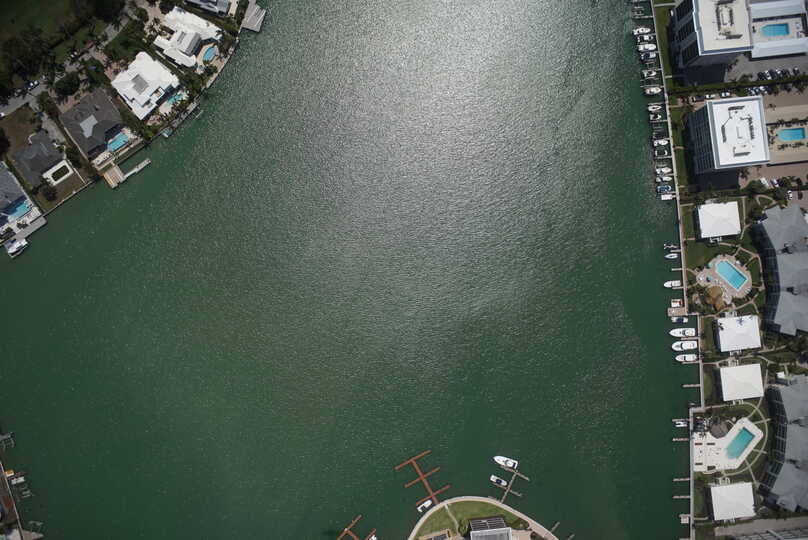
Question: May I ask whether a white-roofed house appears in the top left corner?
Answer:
Yes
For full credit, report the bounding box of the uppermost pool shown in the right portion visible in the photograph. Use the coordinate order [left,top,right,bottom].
[761,22,791,37]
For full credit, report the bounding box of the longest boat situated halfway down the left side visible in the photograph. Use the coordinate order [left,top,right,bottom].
[3,242,27,257]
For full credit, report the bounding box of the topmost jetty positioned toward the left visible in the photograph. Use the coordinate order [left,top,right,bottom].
[241,0,267,33]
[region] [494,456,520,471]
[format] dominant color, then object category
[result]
white boat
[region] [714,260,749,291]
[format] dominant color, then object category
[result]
blue swimming pool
